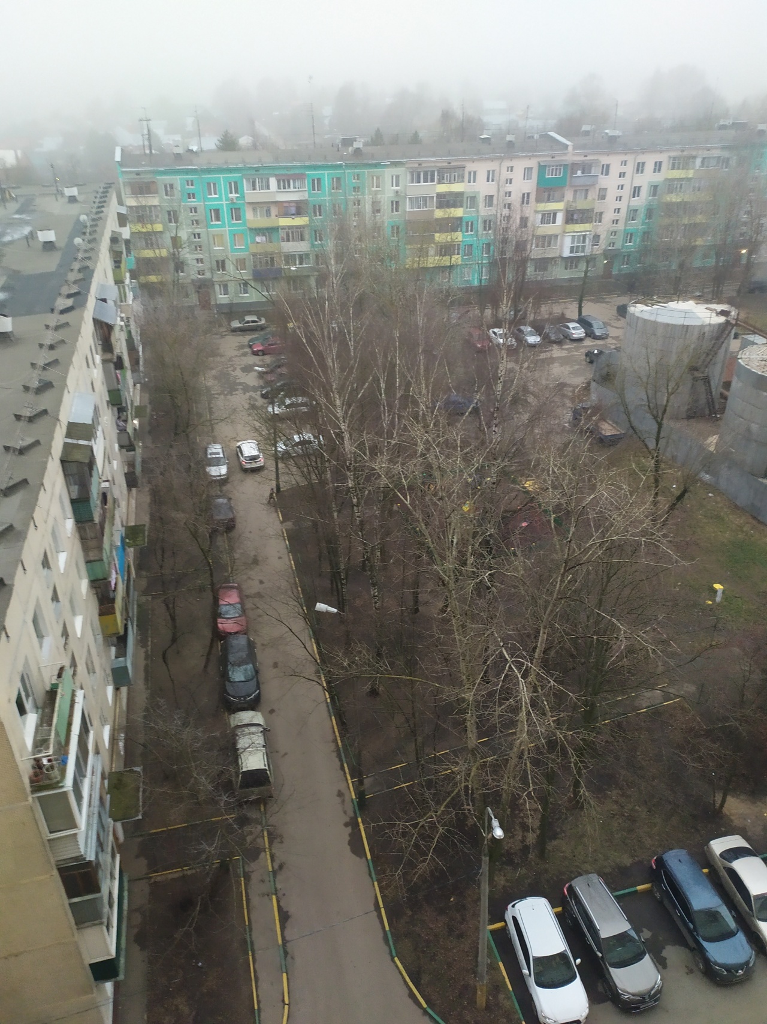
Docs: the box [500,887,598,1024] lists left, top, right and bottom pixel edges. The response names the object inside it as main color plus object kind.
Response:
white car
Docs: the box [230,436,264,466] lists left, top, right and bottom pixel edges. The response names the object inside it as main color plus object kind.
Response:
white car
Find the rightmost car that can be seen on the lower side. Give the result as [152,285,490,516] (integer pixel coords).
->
[706,830,767,947]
